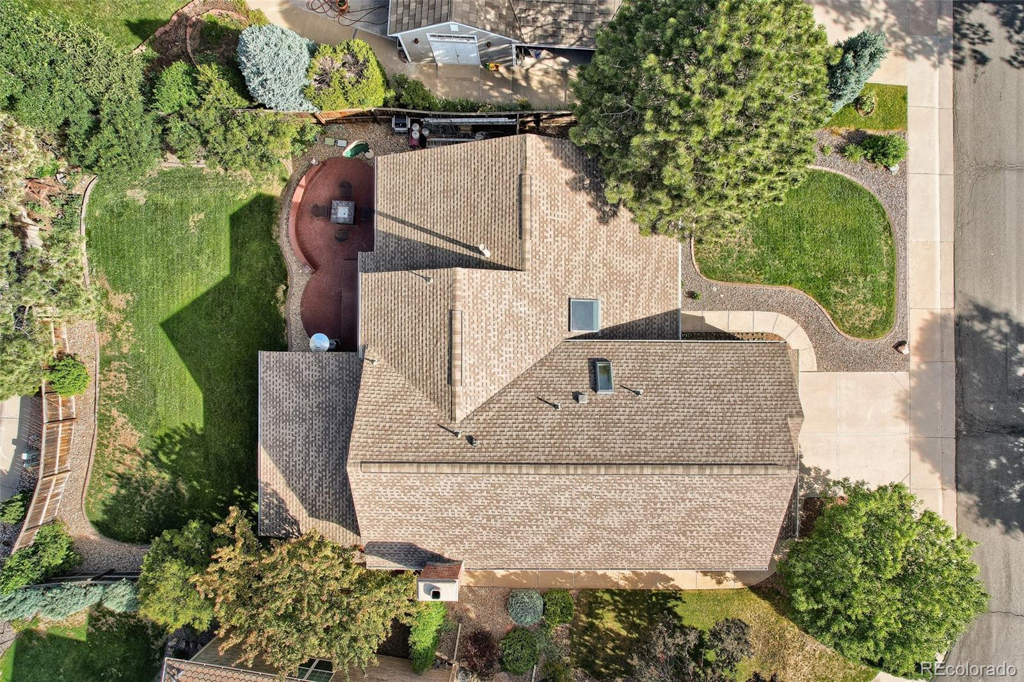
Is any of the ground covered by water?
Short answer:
No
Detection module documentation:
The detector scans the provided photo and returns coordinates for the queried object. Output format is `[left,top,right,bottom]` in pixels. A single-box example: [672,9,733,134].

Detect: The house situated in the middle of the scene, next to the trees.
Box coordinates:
[256,133,807,602]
